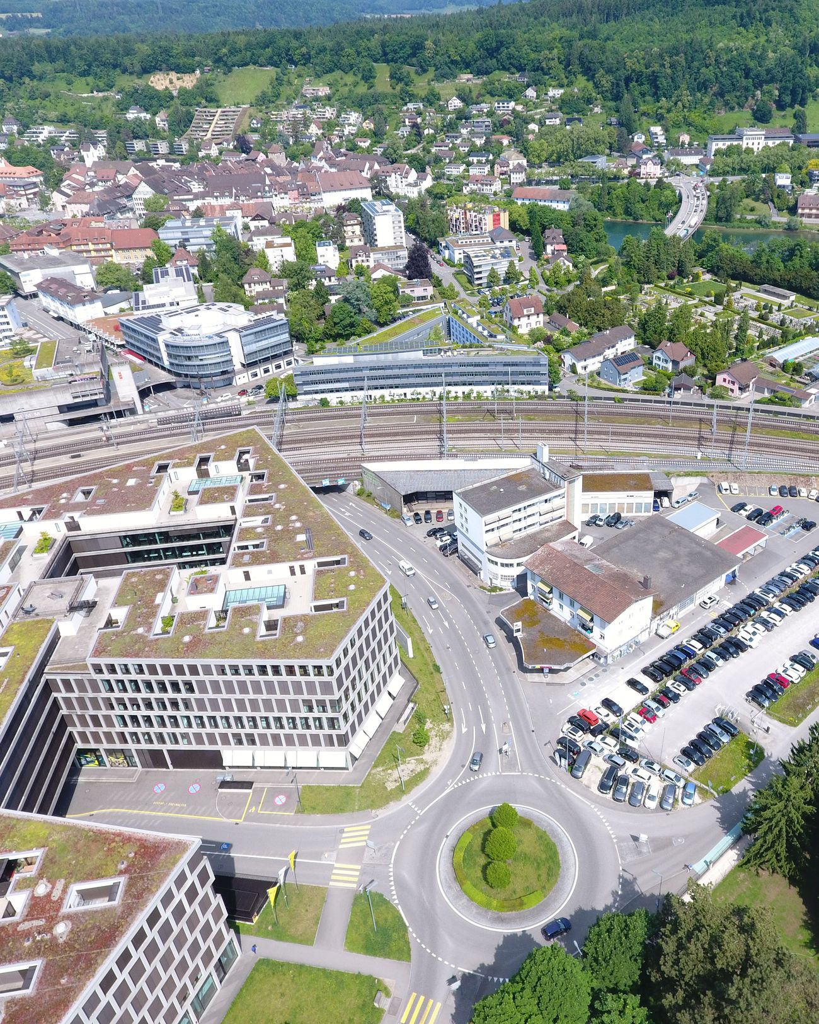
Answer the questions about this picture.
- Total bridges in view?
1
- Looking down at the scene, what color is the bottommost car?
blue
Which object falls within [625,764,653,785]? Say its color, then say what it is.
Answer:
white car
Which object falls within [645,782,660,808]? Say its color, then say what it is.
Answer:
white car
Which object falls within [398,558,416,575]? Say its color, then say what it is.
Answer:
white vehicle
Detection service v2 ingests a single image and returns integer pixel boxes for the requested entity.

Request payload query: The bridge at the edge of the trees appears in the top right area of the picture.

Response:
[652,182,707,253]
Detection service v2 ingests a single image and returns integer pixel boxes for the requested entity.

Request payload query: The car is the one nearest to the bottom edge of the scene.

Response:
[539,914,574,942]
